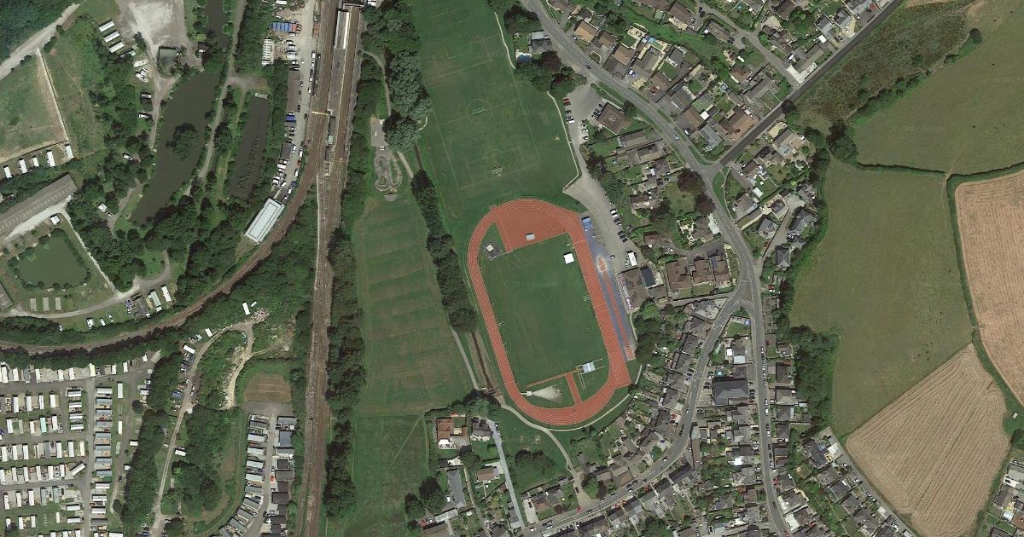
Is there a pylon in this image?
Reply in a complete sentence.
No, the picture doesn't show any pylon.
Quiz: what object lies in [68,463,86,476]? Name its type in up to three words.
vehicle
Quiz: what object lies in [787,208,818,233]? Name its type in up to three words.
house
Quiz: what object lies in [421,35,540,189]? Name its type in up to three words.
soccer field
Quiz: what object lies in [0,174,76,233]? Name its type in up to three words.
barn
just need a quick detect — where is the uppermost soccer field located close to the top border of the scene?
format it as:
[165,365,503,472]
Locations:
[420,7,497,77]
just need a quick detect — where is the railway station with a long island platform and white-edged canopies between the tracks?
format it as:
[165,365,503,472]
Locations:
[326,1,364,175]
